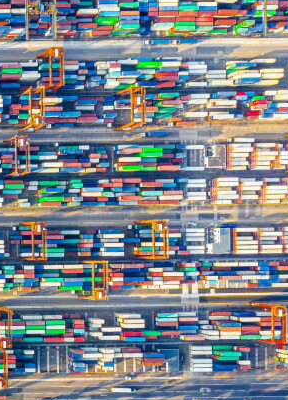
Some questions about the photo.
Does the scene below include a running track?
No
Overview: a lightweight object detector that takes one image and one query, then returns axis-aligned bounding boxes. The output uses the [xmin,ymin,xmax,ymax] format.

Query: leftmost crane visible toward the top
[5,136,30,180]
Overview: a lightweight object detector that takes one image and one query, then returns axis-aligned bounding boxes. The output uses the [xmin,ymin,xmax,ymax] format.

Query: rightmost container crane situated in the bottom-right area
[250,302,288,346]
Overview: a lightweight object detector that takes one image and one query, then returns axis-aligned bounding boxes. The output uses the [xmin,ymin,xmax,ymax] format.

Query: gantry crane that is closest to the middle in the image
[136,219,167,260]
